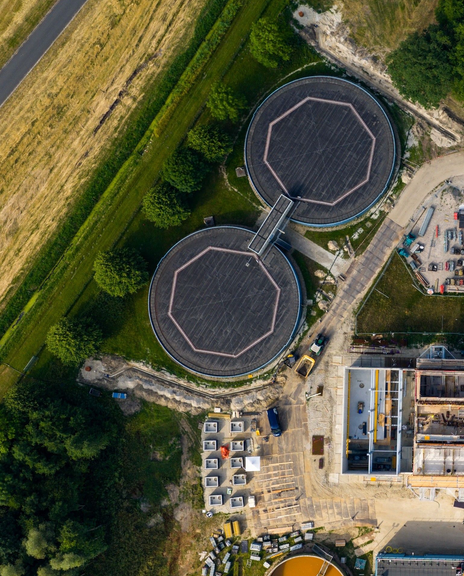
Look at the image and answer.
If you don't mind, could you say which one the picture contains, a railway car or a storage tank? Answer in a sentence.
Looking from above, you can make out a storage tank.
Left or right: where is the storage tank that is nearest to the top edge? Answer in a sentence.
You can find the storage tank that is nearest to the top edge on the right side of the picture.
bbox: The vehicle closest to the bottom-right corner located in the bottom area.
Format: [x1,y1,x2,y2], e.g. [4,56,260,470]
[266,406,283,436]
